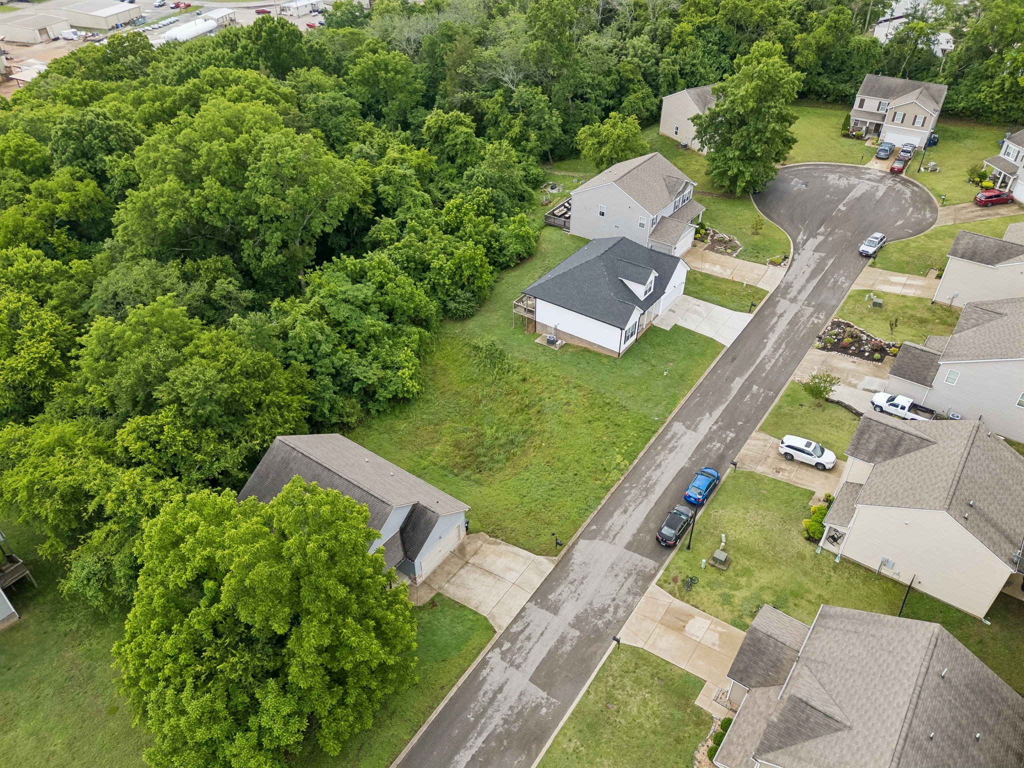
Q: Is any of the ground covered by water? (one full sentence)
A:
No, no water is visible.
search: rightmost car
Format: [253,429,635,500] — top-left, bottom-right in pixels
[975,188,1018,206]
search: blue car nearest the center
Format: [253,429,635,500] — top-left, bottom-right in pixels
[681,464,722,505]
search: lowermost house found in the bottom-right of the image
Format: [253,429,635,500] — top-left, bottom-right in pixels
[711,602,1024,768]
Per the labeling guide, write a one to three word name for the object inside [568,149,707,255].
house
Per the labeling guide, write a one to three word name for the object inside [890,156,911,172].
car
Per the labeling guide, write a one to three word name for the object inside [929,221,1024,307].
house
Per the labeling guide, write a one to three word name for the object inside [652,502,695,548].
car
